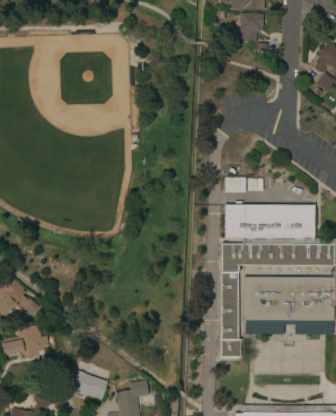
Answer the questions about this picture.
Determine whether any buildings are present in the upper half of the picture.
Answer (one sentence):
Yes, the scene does show a building in the upper half of the picture.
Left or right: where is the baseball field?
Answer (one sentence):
The baseball field appears in the left half of the scene.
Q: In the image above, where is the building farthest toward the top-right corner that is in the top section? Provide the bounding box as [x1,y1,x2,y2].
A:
[313,40,336,72]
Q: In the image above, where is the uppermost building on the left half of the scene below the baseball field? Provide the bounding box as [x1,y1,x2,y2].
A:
[0,276,42,318]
